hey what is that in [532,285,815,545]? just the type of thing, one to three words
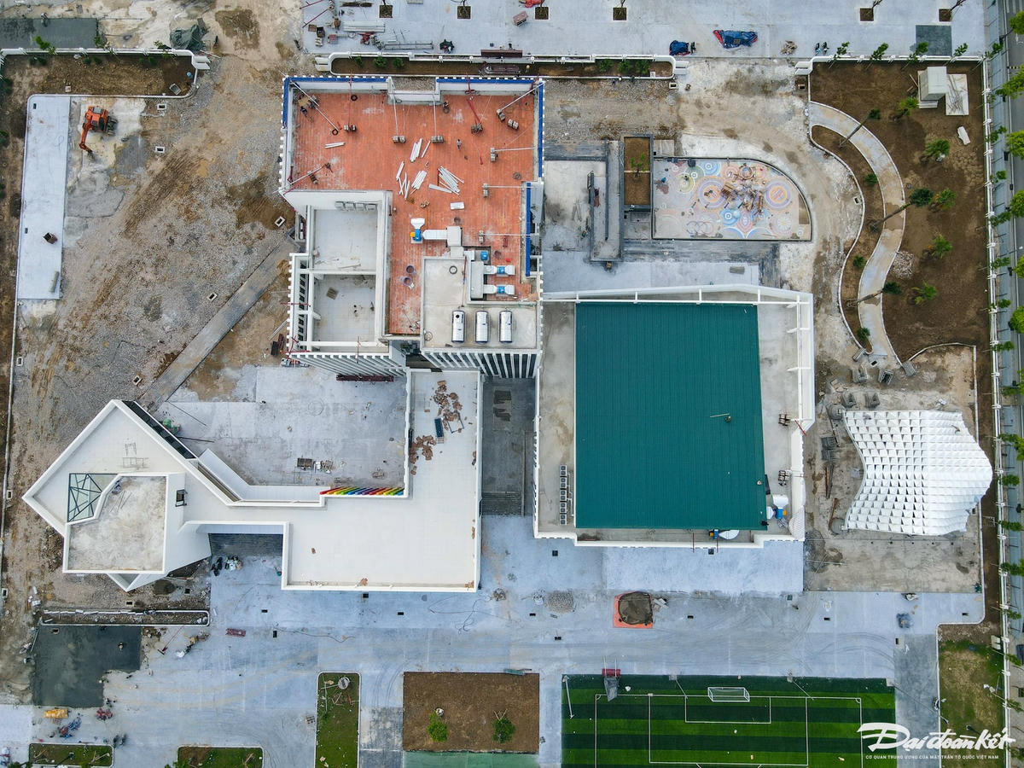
building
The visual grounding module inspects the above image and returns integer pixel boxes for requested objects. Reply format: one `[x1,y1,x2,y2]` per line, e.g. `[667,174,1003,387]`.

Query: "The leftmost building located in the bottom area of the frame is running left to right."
[24,371,485,590]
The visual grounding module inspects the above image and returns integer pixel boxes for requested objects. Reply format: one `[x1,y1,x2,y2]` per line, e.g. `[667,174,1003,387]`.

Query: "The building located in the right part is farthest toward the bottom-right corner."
[838,409,992,535]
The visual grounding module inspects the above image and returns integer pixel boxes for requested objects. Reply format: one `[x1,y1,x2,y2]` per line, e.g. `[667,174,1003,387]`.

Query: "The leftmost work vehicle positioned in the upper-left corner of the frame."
[80,106,117,159]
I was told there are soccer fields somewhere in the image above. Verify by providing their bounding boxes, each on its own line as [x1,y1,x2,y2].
[561,675,898,768]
